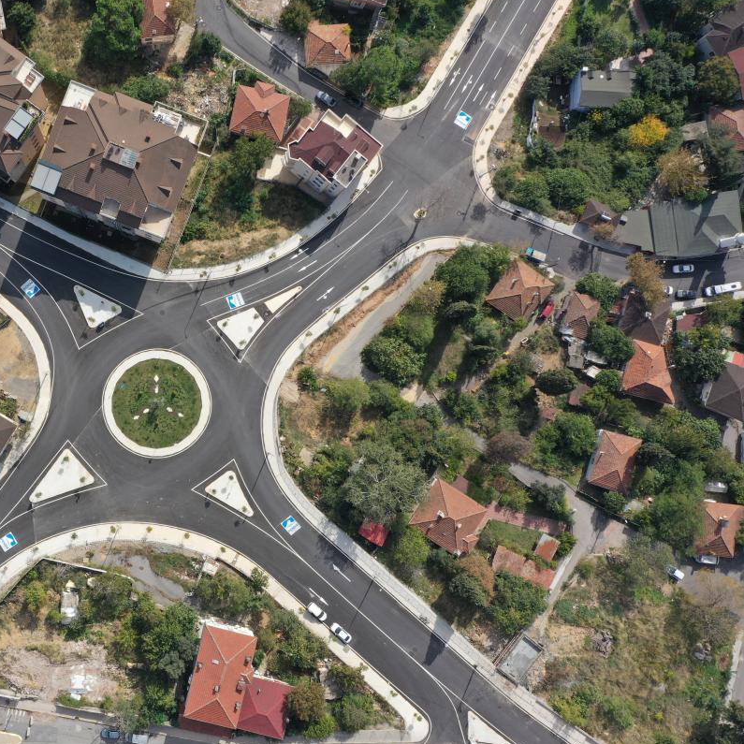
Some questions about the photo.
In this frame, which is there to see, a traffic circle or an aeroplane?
traffic circle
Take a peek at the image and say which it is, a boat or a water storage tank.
water storage tank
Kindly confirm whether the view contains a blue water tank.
No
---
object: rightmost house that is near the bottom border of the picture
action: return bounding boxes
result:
[236,664,295,740]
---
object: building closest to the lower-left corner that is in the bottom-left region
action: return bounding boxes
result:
[63,595,78,619]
